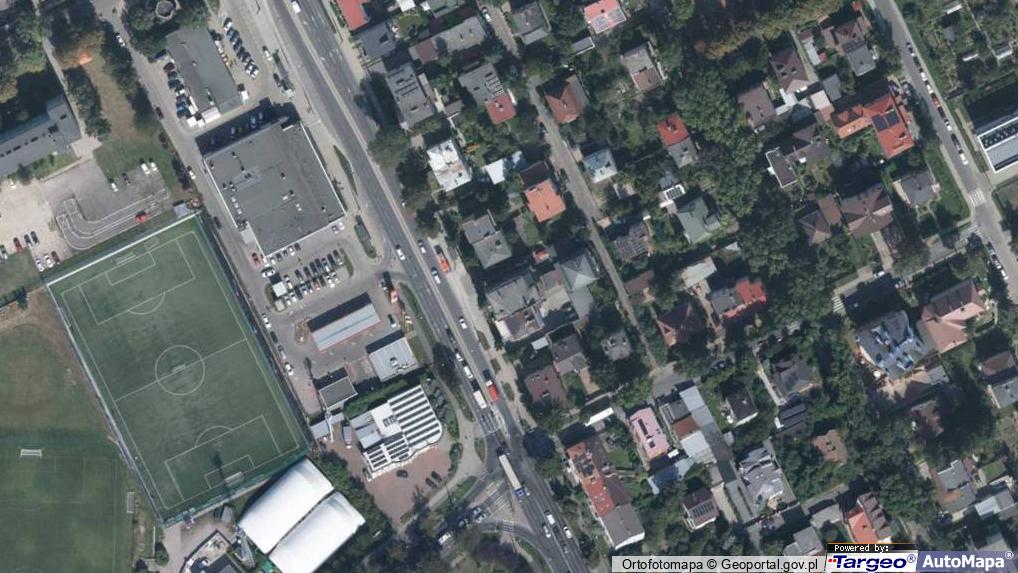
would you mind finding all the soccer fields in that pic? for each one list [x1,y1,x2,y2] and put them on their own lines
[48,215,311,524]
[0,453,120,573]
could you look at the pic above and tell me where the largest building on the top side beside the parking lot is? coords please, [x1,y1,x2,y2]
[203,117,346,259]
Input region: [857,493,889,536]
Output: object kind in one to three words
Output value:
house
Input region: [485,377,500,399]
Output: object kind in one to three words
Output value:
vehicle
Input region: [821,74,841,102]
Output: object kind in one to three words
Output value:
building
